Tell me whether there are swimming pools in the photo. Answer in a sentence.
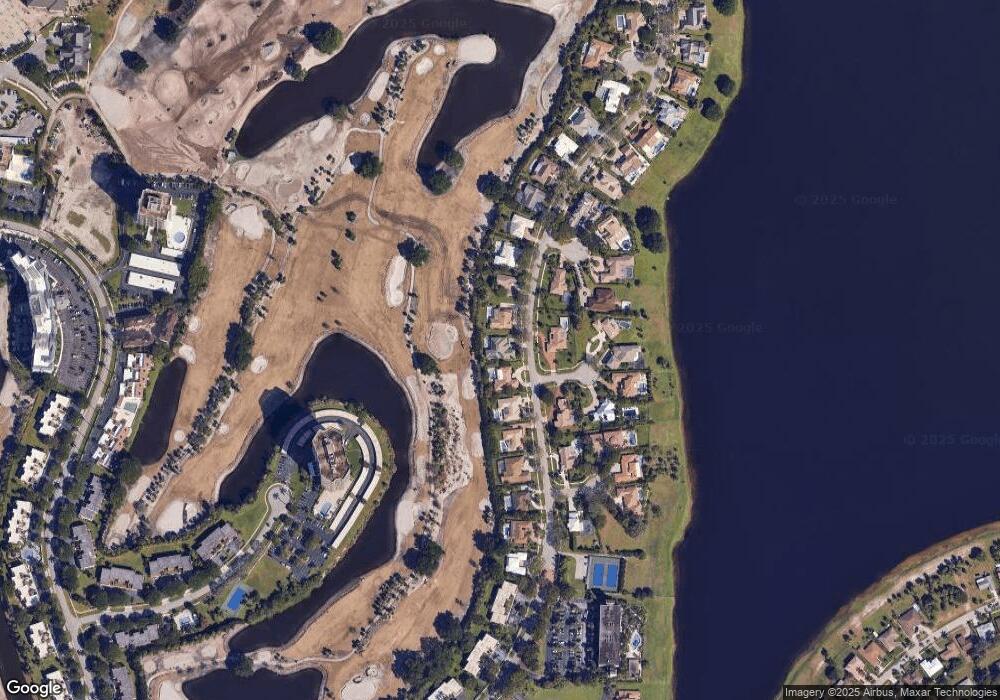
Yes, there is a swimming pool in the image.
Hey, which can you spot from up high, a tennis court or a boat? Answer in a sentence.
It is a tennis court that can be seen here.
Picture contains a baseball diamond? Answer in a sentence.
No, the frame has no baseball diamond in it.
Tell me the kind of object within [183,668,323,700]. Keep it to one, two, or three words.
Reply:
pond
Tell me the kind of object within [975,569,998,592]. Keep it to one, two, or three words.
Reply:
house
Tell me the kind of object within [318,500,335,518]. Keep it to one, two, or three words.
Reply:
swimming pool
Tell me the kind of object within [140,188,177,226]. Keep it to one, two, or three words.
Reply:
building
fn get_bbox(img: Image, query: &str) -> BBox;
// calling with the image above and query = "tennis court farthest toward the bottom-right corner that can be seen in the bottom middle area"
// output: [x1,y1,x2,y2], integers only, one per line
[587,556,622,592]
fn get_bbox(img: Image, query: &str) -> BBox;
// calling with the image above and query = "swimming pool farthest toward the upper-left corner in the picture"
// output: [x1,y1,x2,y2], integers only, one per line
[20,163,32,181]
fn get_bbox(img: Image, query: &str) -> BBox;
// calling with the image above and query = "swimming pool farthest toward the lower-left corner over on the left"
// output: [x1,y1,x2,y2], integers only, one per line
[20,550,40,565]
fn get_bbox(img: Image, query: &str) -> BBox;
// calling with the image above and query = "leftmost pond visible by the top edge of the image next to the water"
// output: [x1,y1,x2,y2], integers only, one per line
[234,0,556,194]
